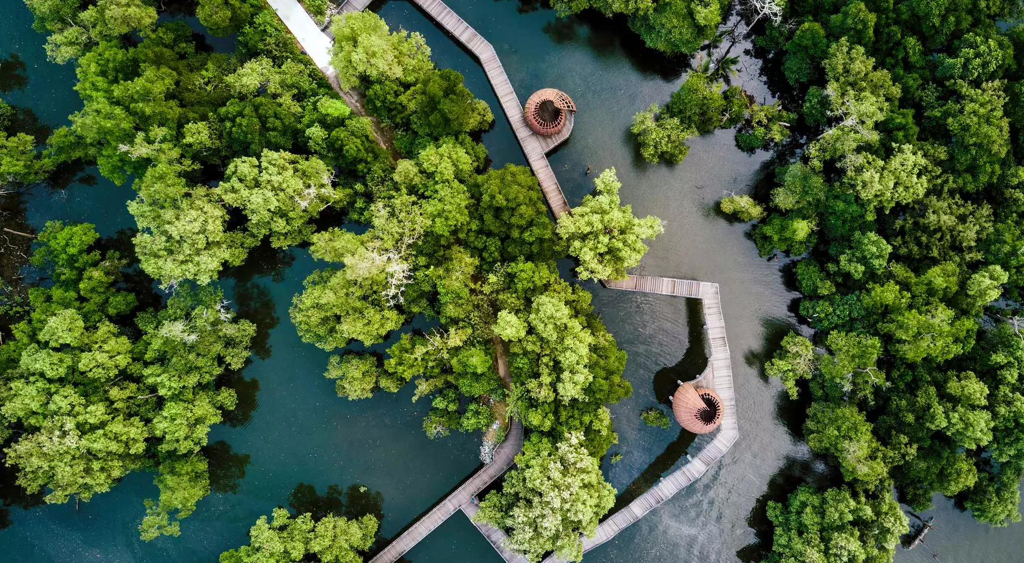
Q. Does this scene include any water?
Yes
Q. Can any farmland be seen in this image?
No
